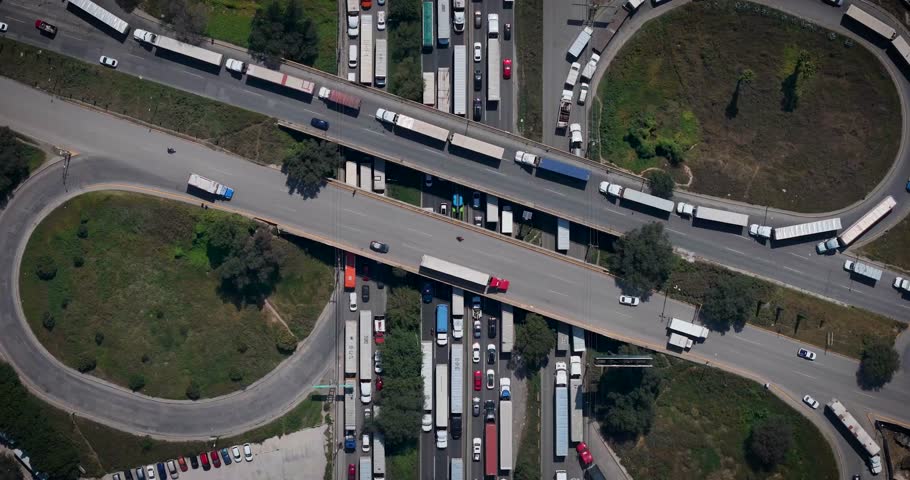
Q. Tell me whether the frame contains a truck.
Yes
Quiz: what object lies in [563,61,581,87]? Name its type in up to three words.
vehicle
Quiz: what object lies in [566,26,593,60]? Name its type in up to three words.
truck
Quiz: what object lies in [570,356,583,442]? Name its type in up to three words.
vehicle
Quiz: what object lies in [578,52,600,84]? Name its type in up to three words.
truck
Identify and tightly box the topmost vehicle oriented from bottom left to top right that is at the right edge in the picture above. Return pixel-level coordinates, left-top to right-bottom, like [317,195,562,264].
[815,196,897,254]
